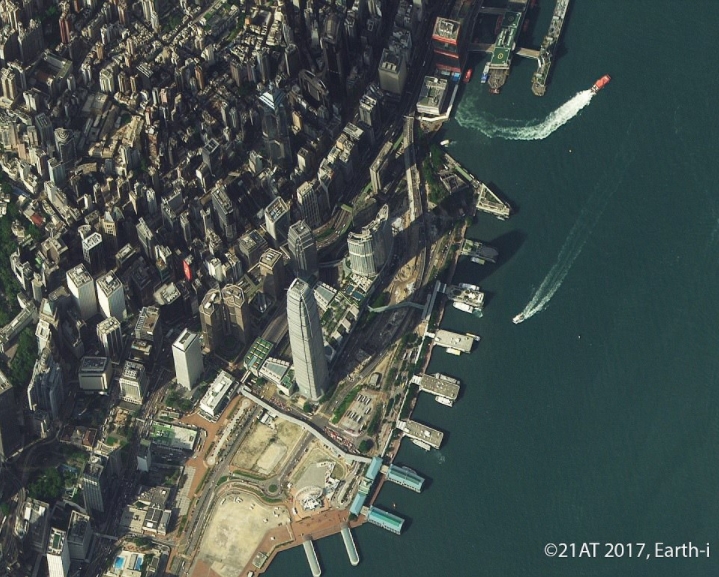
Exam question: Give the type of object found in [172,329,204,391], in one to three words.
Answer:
building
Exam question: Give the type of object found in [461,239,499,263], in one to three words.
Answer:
pier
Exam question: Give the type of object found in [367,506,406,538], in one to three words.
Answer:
pier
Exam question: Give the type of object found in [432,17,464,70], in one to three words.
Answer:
building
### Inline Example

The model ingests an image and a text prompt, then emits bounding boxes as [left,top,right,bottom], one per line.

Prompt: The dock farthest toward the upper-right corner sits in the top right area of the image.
[532,0,569,95]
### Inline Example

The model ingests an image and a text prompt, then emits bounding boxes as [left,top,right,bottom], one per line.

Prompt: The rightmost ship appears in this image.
[590,76,610,93]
